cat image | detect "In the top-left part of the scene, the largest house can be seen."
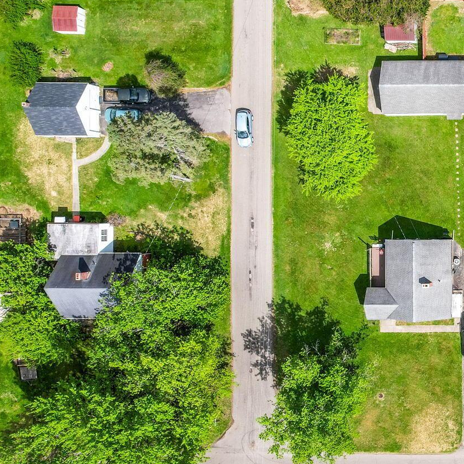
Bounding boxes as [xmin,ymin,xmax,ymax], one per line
[16,81,100,137]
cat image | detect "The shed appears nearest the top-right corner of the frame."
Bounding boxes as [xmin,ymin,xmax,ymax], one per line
[383,19,419,45]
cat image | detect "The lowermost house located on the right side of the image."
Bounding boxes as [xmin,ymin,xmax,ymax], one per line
[359,239,463,325]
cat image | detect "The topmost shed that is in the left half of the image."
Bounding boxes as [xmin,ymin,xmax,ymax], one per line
[48,6,89,34]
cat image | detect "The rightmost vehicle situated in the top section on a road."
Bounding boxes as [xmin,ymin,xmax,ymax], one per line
[233,108,255,147]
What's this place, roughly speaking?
residential area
